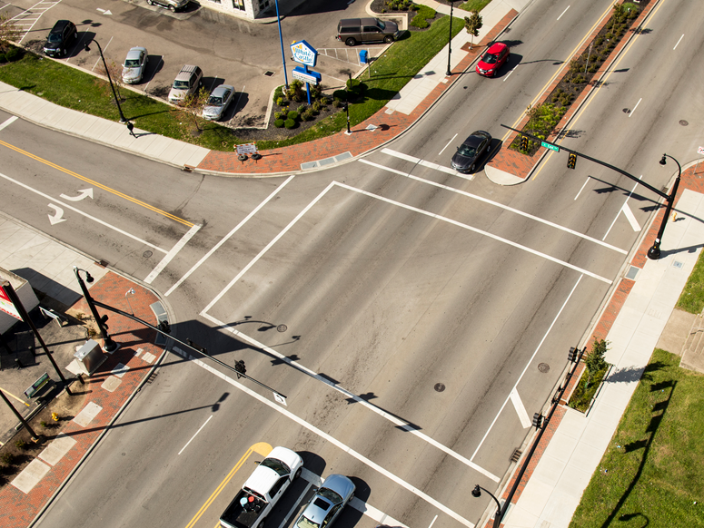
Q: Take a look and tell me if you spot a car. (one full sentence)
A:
Yes, a car is visible in the scene.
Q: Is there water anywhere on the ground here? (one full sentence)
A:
No, no water is visible.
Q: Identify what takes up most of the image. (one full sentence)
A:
Most of the picture is covered by paved ground.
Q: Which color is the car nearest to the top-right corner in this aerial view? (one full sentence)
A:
The color of the car nearest to the top-right corner is red.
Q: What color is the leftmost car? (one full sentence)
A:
From above, the leftmost car appears black.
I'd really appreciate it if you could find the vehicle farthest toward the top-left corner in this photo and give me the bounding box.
[40,16,77,57]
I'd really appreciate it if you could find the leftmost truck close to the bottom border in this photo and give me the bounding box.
[217,447,303,528]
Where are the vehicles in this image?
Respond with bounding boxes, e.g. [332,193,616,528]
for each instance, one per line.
[476,36,510,74]
[40,16,77,57]
[336,16,400,45]
[144,0,190,11]
[217,447,303,528]
[447,131,489,174]
[166,60,203,102]
[200,82,236,120]
[118,49,148,83]
[292,475,357,528]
